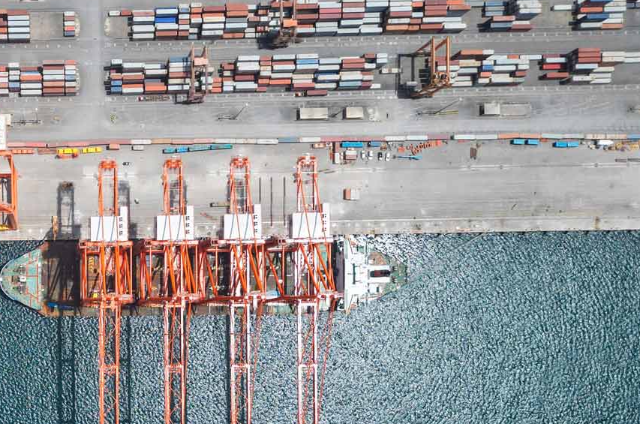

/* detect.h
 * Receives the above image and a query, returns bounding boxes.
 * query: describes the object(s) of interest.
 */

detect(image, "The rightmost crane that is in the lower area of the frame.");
[251,156,342,424]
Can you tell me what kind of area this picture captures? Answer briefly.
port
